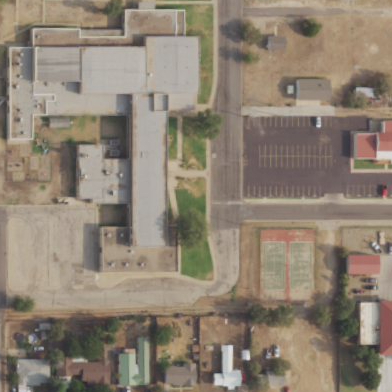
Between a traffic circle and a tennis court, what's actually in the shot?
tennis court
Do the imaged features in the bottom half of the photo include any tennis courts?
Yes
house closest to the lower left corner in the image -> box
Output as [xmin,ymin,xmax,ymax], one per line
[16,359,50,392]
